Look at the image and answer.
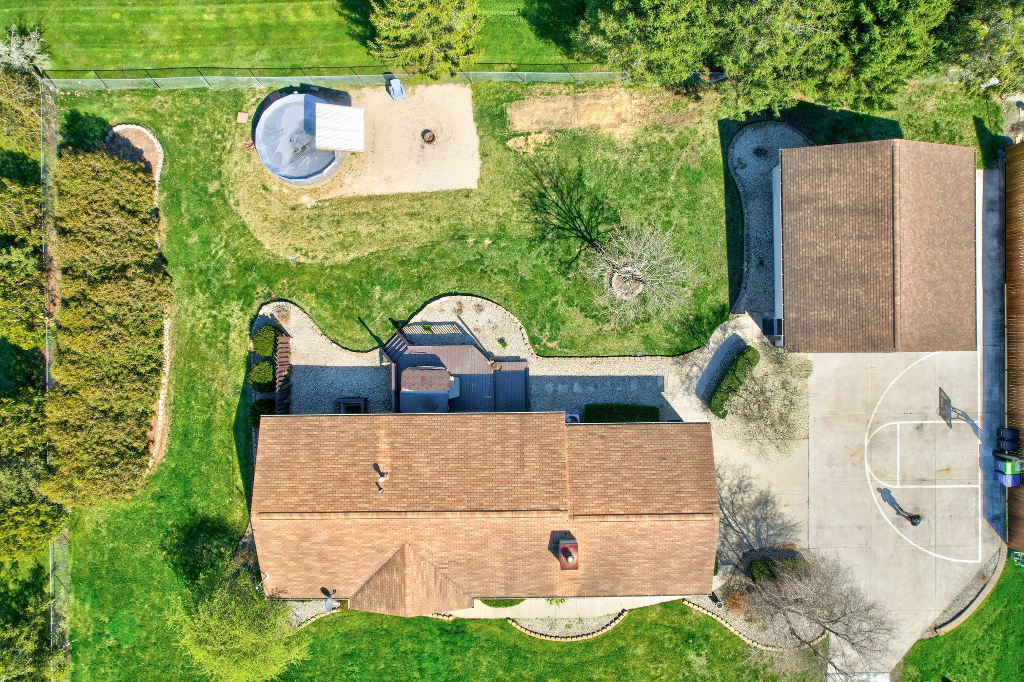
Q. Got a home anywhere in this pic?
Yes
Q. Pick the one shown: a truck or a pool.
pool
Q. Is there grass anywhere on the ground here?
Yes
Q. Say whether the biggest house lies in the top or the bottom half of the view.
bottom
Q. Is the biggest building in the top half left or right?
right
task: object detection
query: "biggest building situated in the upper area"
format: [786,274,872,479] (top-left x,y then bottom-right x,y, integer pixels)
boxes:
[758,139,978,354]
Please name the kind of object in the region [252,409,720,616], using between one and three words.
house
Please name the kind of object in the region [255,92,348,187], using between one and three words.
swimming pool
